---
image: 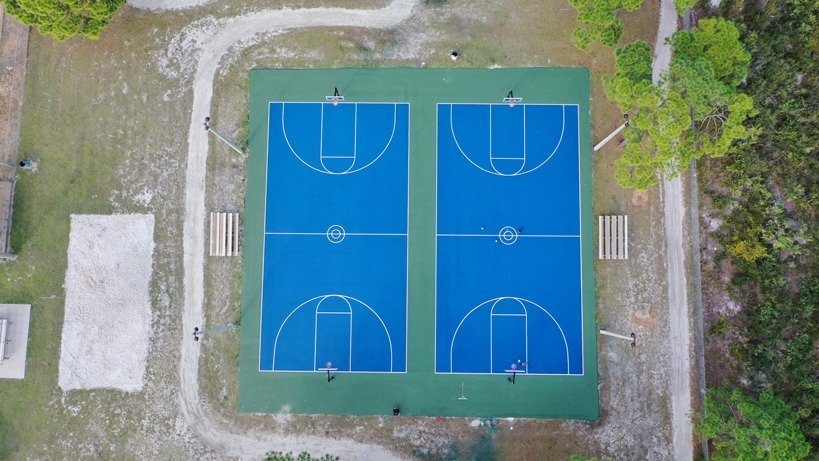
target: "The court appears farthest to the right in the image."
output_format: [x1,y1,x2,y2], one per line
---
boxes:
[435,103,584,375]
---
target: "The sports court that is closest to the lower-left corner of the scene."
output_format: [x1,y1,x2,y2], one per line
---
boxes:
[59,212,156,391]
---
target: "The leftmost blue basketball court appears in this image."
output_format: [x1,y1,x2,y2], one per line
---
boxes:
[259,102,410,373]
